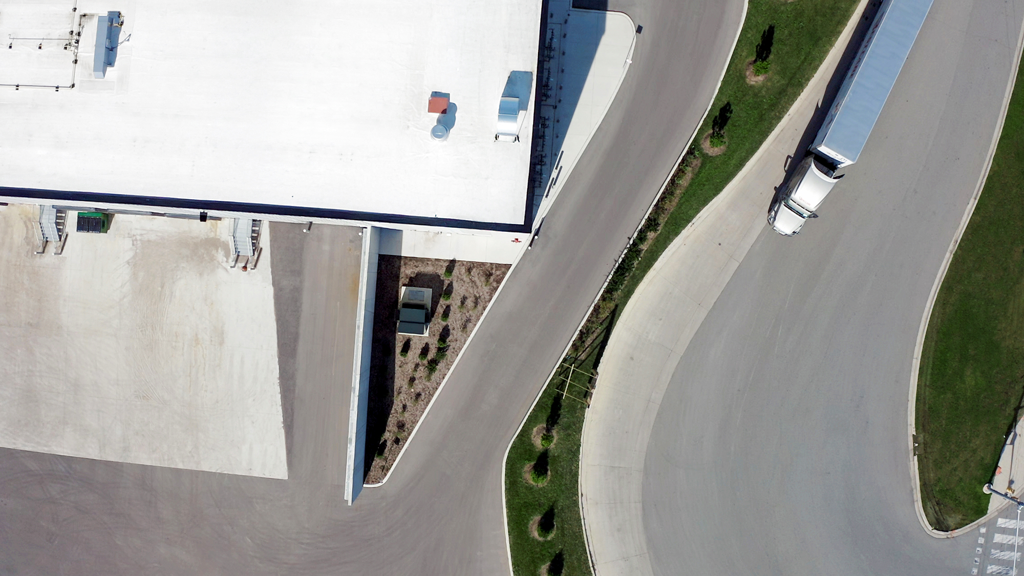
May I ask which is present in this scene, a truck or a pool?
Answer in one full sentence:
It is a truck that can be seen here.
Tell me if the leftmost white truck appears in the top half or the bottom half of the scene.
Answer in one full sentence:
You can find the leftmost white truck in the top half.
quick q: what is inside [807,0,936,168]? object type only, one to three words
trailer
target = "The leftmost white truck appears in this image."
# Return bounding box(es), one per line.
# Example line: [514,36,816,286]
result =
[769,123,846,242]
